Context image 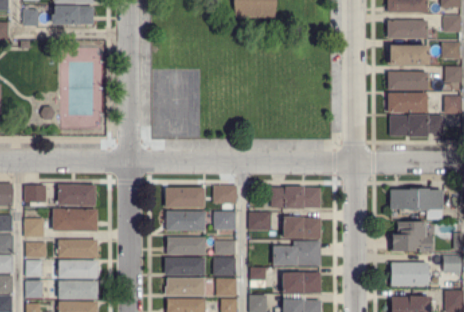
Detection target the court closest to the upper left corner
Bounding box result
[58,40,104,134]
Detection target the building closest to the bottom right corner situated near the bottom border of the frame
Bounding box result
[444,290,462,312]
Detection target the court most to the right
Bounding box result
[150,69,200,138]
